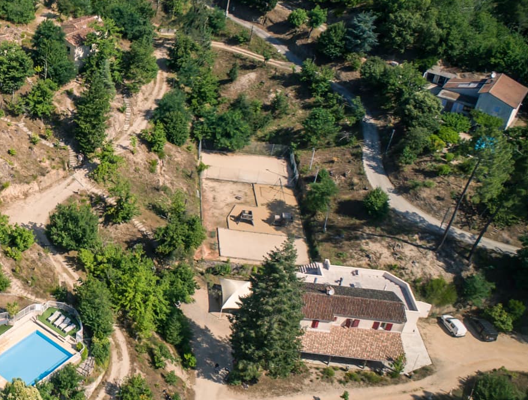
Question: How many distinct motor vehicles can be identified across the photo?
2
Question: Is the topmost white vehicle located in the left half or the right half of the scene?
right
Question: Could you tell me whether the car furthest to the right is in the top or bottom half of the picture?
bottom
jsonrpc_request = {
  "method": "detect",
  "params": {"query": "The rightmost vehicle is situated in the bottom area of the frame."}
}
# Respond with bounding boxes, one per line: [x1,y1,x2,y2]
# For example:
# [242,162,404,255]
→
[467,317,501,344]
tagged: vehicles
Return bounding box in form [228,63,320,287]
[467,317,501,344]
[442,313,472,339]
